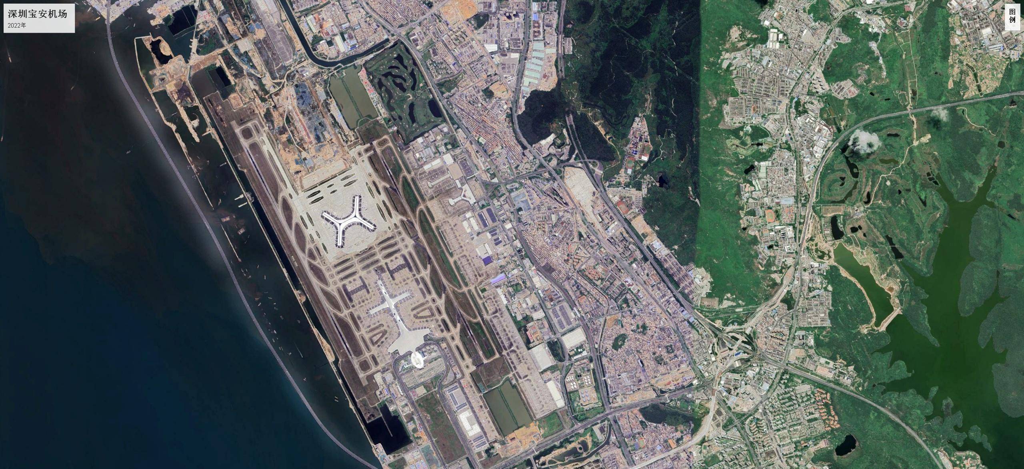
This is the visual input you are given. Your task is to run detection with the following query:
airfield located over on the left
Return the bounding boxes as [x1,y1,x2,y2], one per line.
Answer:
[204,92,557,444]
